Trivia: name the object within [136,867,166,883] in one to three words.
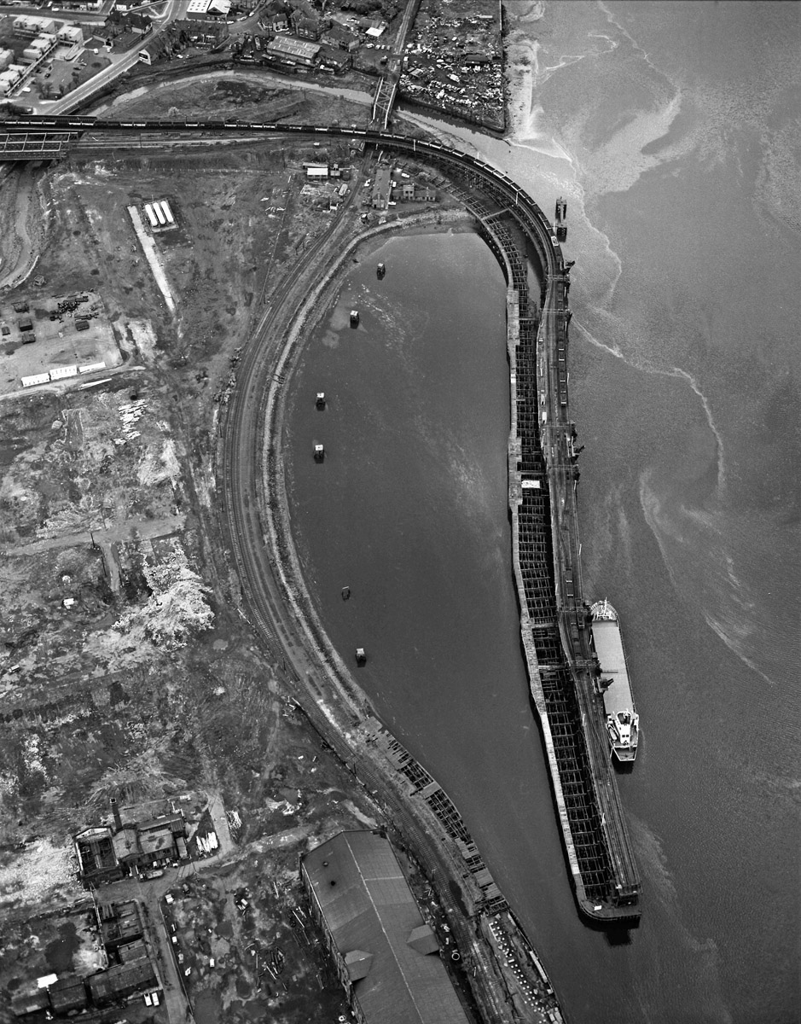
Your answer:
vehicle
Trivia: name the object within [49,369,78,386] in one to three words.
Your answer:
building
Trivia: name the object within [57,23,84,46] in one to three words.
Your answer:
house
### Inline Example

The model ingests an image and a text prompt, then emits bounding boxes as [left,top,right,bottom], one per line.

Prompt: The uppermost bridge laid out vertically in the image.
[373,78,397,129]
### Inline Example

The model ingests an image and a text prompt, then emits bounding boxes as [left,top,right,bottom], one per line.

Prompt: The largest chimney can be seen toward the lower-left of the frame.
[109,797,125,830]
